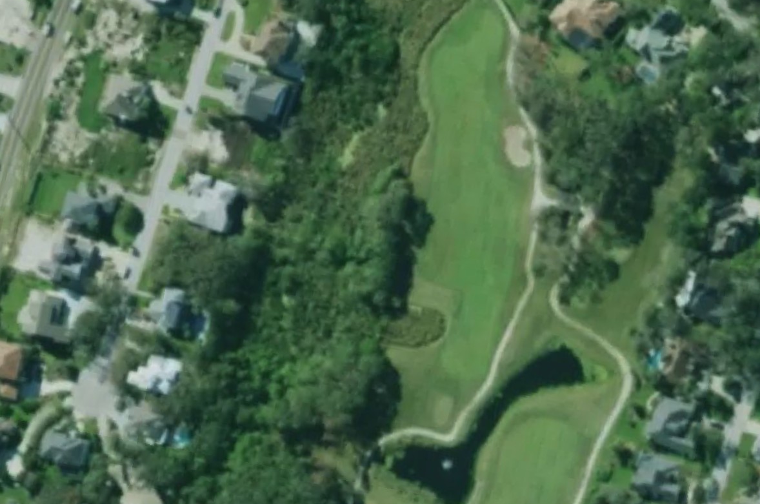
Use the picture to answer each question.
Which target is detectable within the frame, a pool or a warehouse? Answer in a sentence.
I can see a pool in this picture.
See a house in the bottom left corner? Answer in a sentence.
Yes, a house is visible in the bottom left corner.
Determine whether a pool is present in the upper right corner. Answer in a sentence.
Yes, looking in the upper right corner, one can make out a pool.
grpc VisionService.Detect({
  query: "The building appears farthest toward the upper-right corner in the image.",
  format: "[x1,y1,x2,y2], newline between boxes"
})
[625,8,689,51]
